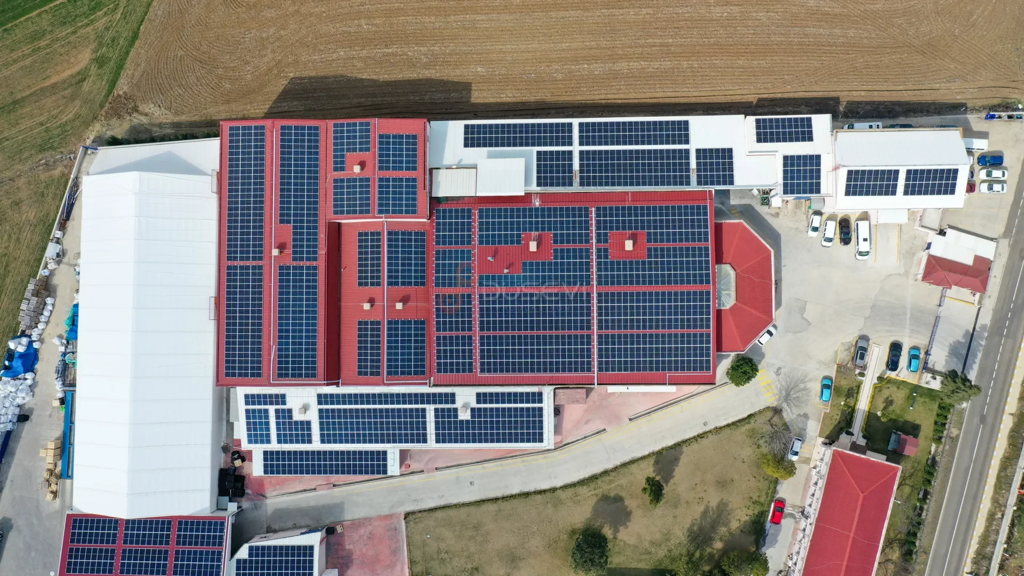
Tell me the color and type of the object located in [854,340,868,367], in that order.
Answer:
gray car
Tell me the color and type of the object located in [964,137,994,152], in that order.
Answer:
white vehicle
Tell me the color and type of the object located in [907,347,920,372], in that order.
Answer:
blue vehicle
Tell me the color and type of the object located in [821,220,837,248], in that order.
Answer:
white car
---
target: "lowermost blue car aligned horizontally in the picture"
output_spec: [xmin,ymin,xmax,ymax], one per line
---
[976,153,1005,165]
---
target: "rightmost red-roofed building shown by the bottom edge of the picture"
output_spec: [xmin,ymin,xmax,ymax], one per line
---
[778,447,901,576]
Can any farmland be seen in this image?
Yes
